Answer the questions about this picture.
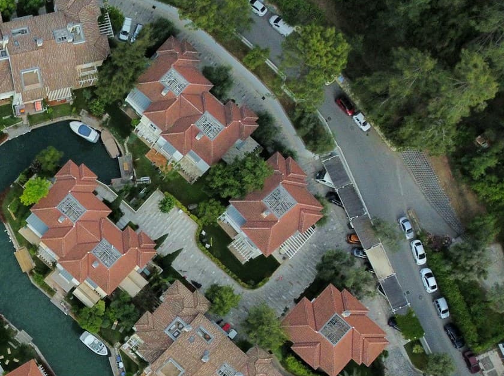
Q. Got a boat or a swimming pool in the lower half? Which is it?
boat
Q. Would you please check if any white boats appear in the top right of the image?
No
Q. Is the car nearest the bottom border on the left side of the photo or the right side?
right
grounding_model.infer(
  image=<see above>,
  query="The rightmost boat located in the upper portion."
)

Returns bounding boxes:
[98,132,119,159]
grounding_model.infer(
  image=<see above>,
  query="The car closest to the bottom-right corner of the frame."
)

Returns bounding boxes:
[459,348,482,375]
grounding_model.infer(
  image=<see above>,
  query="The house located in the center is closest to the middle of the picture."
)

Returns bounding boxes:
[217,150,325,258]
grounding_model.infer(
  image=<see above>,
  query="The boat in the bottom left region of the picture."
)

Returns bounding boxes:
[76,331,107,353]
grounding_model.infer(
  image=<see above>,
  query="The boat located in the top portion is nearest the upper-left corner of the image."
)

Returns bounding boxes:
[69,123,101,146]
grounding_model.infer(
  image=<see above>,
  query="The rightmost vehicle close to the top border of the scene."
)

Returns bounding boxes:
[268,14,296,37]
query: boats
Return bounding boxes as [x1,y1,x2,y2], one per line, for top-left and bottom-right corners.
[76,331,107,353]
[69,123,101,146]
[98,132,119,159]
